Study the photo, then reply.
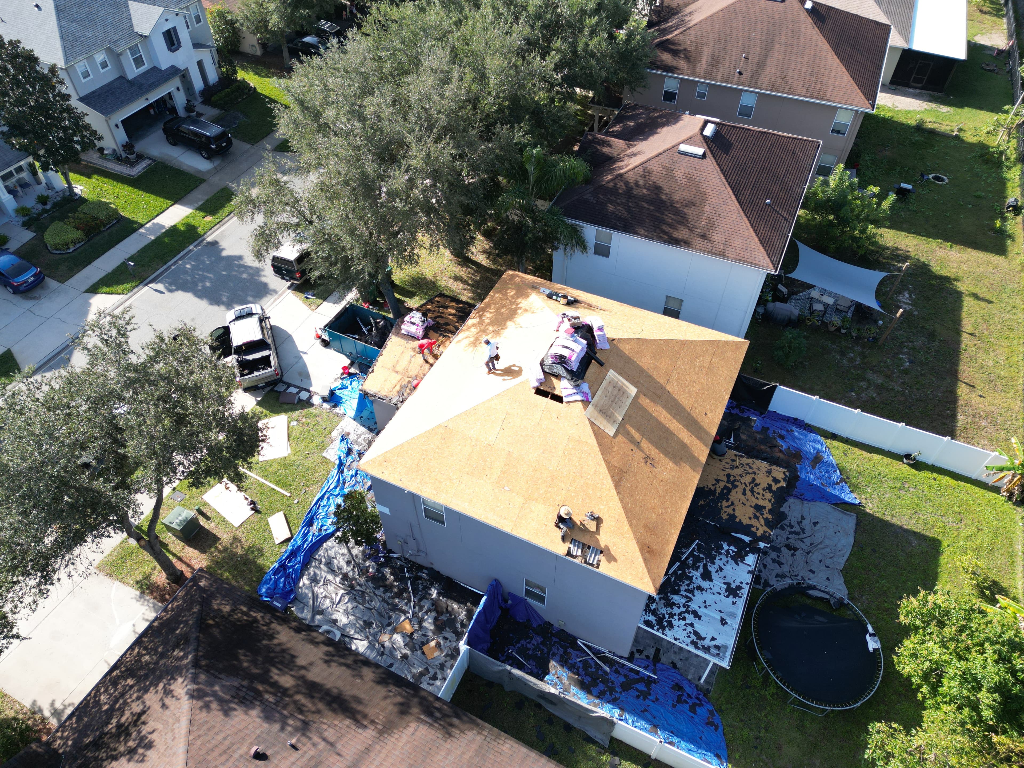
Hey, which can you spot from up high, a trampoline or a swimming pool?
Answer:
trampoline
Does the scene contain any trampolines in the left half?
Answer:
No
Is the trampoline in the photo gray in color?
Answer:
No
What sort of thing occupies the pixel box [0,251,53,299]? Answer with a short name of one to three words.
car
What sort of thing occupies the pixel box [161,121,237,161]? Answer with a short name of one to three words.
car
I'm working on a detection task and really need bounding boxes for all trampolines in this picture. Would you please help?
[743,581,885,716]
